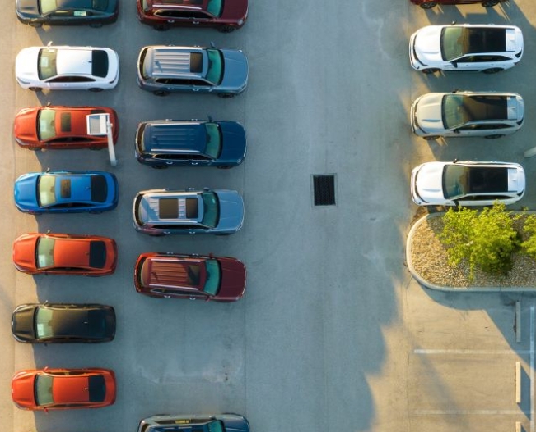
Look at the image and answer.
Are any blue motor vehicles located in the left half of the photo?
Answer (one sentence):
Yes, a blue motor vehicle appears in the left half of the photo.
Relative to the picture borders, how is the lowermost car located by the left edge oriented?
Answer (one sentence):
The lowermost car located by the left edge has been laid out from left to right relative to the frame.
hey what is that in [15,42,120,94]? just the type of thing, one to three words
car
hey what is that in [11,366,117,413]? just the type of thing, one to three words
car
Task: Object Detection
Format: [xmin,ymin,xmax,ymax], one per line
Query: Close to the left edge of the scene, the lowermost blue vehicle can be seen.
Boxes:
[13,167,118,215]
